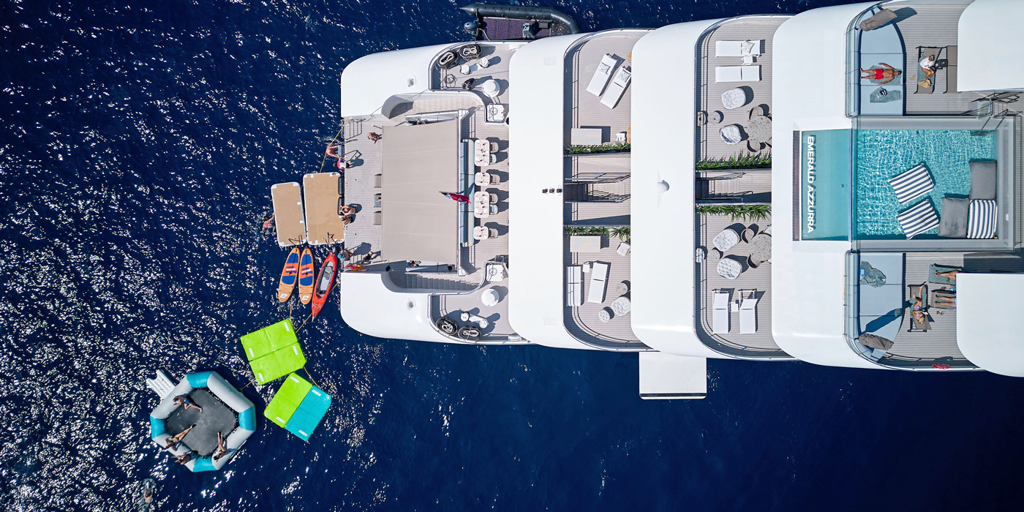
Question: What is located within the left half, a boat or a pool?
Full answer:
Looking within the left half, you will find a boat.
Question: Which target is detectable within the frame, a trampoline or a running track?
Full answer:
The one in the frame is a trampoline.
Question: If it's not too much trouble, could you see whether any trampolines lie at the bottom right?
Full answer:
No, I see no trampoline at the bottom right.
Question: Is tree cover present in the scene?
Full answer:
No, no tree cover is visible.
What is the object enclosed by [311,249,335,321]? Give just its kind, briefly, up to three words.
boat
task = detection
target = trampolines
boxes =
[141,364,258,471]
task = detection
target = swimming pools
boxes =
[792,98,1022,252]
